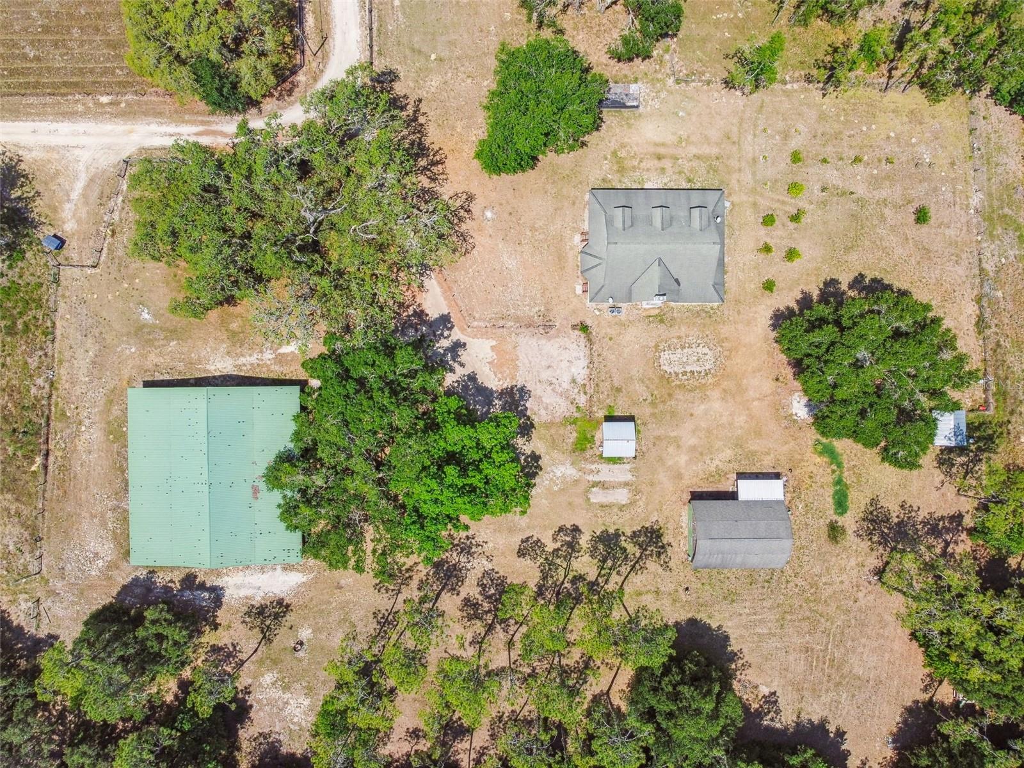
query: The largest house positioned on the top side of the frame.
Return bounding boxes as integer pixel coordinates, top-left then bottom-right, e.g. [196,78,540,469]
[580,189,725,309]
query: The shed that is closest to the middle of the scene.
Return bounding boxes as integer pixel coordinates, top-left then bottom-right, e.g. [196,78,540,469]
[602,422,636,457]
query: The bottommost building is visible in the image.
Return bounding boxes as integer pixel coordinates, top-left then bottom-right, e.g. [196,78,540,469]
[689,498,794,568]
